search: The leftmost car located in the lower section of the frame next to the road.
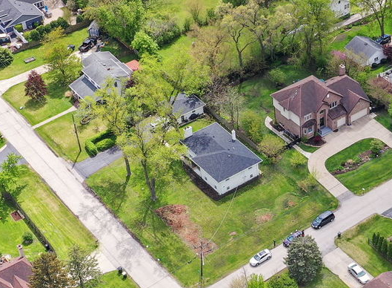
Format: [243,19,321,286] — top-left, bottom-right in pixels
[248,246,275,268]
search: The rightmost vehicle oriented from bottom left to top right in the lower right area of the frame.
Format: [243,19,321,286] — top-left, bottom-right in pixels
[309,208,337,230]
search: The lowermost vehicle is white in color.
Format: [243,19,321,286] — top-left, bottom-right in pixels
[346,262,372,284]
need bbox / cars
[373,33,392,46]
[309,208,337,230]
[248,246,275,268]
[281,228,307,249]
[346,262,372,284]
